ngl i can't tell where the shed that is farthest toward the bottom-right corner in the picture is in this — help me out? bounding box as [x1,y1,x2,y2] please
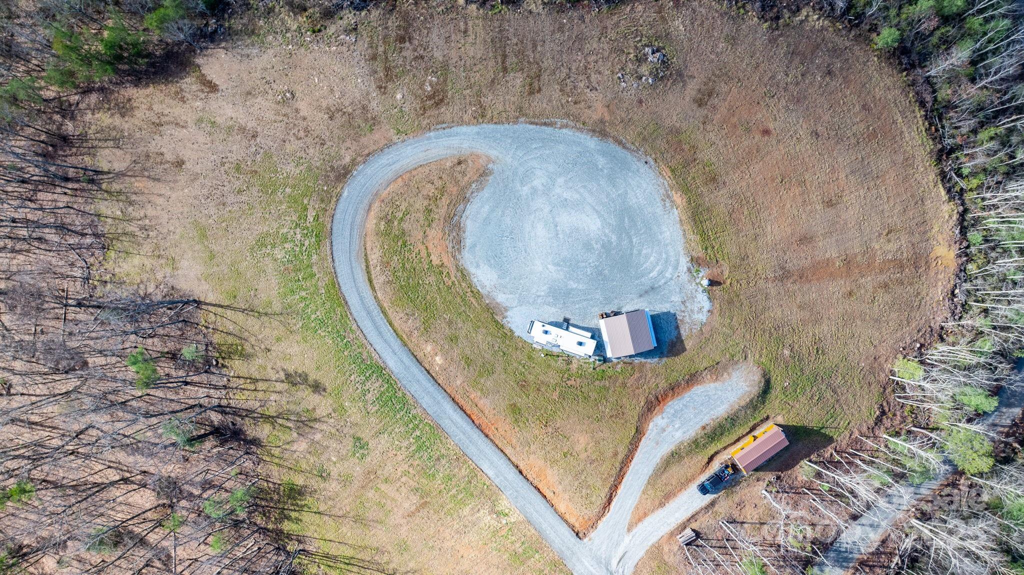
[732,425,792,475]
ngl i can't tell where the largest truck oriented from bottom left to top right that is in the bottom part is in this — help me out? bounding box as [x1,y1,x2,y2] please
[696,465,736,495]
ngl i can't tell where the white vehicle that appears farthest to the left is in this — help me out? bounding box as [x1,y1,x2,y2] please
[527,319,597,358]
